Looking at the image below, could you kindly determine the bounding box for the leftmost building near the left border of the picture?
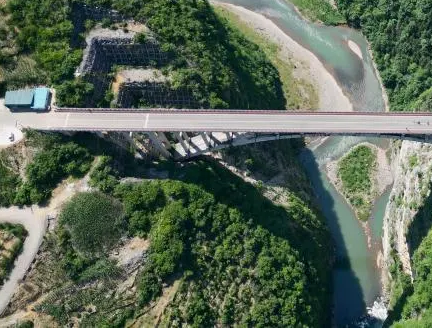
[4,90,33,107]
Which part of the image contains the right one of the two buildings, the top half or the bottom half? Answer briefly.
top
